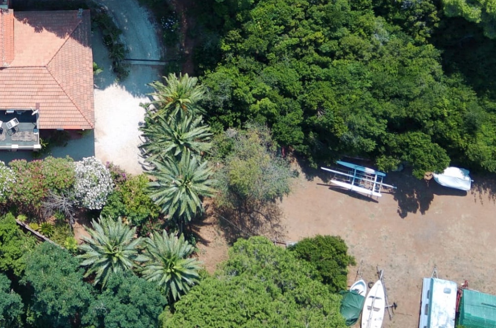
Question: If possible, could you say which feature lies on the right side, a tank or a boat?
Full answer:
It is a boat that can be seen on the right side.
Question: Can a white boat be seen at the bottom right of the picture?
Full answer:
Yes, looking at the bottom right of the picture, one can make out a white boat.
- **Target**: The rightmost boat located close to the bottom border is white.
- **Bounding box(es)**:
[363,280,388,328]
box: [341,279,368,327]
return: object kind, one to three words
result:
boat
